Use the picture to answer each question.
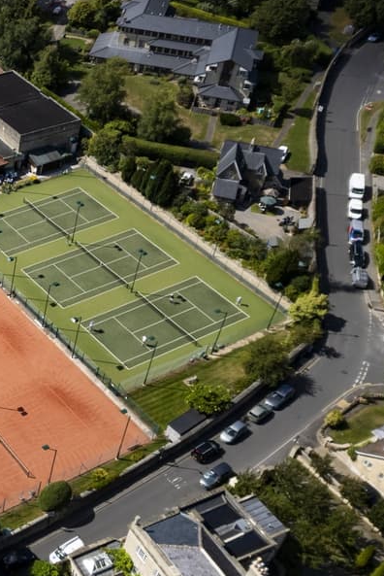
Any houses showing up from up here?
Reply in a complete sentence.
Yes, there is a house in the image.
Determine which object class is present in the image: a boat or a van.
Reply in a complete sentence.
The image shows a van.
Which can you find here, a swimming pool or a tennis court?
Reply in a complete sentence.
I can see a tennis court in this picture.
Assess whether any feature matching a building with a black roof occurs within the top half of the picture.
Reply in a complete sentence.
Yes, the scene does show a building with a black roof within the top half of the picture.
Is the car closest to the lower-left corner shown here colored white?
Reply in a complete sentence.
No, the color of the car closest to the lower-left corner is black.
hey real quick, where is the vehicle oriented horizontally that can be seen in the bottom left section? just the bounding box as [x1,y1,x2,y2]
[0,549,40,570]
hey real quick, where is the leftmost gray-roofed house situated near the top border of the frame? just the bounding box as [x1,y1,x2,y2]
[90,0,260,113]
